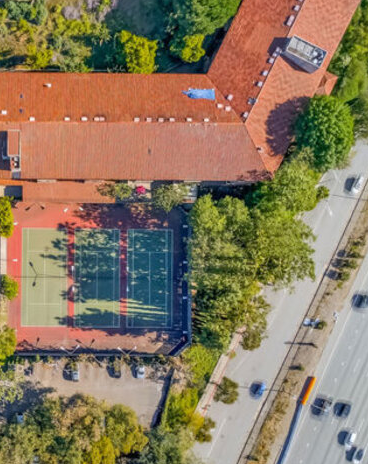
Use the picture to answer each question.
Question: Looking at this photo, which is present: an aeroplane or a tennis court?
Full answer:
The one in the frame is a tennis court.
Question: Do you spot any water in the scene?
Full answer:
No, the scene doesn't show any water.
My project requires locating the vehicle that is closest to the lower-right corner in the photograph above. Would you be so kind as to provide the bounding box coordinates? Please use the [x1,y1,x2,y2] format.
[350,445,365,464]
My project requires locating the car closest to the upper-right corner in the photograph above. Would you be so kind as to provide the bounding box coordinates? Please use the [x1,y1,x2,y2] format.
[348,174,364,195]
